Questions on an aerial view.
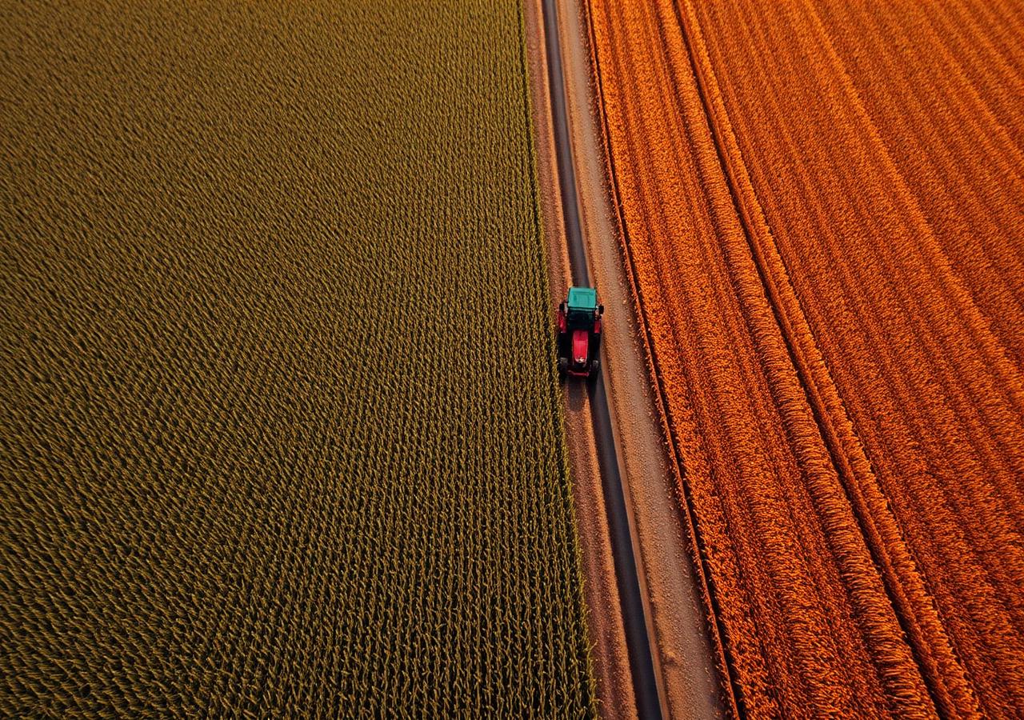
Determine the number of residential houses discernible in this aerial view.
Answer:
none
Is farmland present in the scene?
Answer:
Yes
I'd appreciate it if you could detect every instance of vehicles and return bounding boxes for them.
[556,289,604,378]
